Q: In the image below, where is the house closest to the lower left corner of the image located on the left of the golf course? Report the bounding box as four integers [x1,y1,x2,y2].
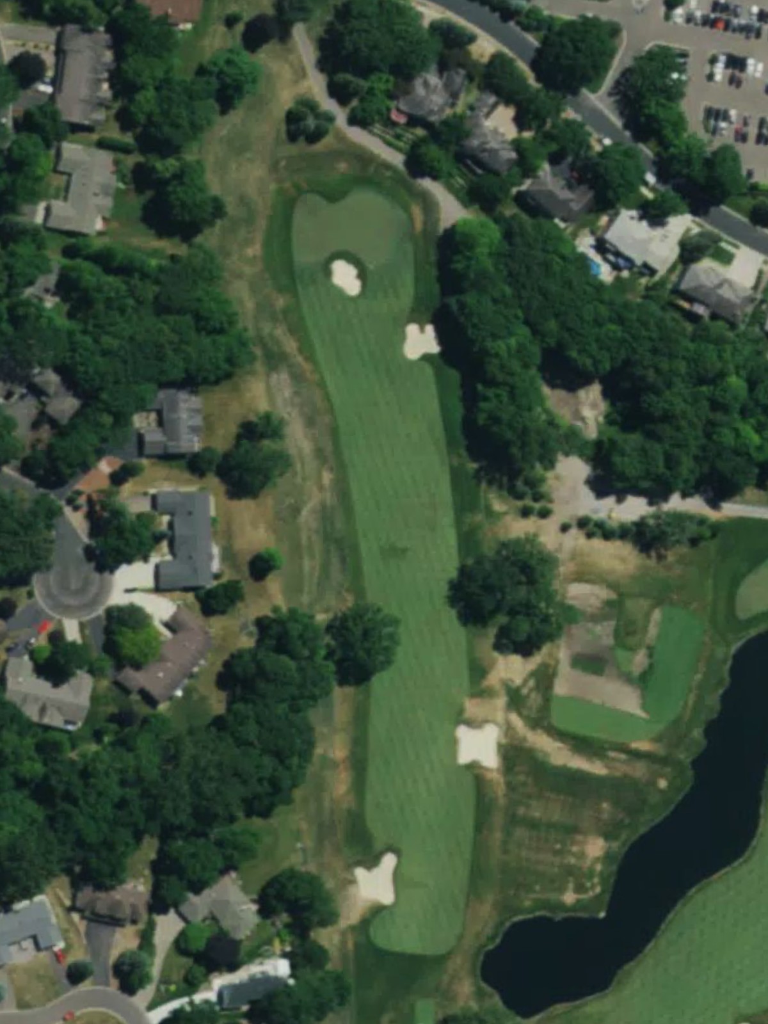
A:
[0,894,69,973]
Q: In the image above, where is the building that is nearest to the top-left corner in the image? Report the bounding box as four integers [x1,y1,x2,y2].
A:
[58,23,113,125]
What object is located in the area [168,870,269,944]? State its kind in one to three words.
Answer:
house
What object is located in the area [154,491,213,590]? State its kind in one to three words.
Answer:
house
